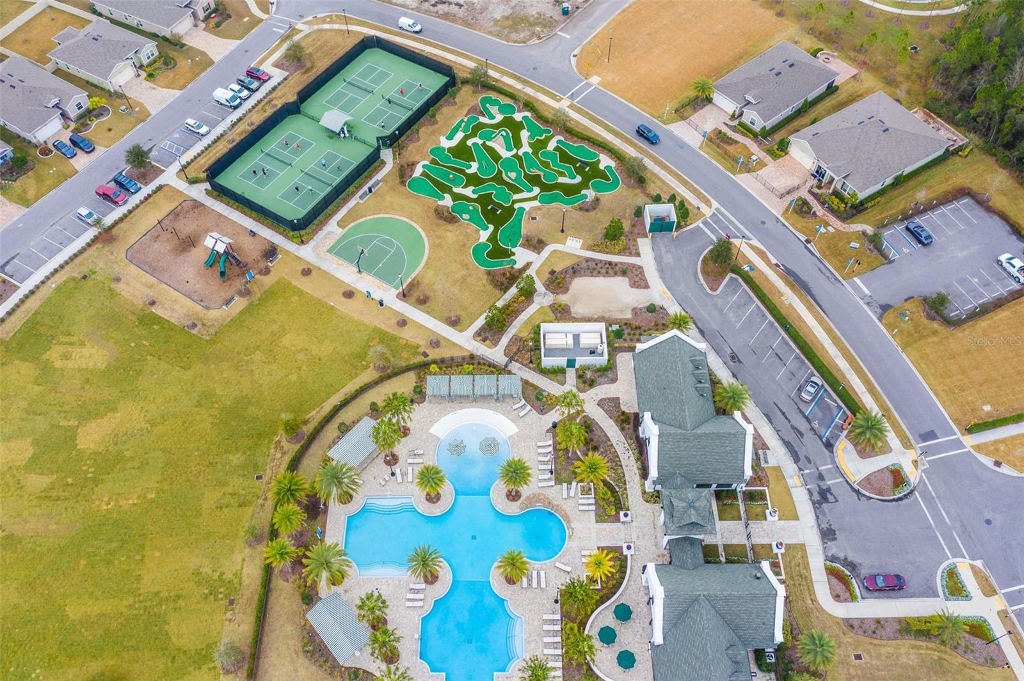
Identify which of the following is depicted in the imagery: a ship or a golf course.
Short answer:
golf course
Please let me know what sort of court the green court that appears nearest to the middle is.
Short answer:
basketball court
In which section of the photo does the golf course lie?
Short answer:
top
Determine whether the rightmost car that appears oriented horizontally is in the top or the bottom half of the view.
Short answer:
bottom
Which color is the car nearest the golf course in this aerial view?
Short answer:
blue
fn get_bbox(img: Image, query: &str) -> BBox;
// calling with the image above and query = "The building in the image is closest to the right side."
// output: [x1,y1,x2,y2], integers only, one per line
[788,89,949,202]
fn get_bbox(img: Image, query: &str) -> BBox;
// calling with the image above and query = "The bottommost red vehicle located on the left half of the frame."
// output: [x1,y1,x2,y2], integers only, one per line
[93,182,126,205]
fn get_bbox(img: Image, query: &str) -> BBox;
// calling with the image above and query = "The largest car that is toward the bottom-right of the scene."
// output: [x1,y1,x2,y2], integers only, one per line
[864,573,911,593]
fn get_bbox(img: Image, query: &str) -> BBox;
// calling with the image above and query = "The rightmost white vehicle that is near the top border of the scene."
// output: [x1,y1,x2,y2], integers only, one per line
[397,14,422,32]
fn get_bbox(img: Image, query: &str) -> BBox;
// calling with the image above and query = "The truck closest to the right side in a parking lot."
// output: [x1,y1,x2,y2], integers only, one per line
[999,251,1024,282]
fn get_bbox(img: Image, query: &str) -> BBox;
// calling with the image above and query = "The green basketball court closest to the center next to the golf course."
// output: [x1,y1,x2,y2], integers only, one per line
[328,214,430,291]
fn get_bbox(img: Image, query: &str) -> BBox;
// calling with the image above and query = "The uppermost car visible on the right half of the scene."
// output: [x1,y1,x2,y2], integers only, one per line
[635,122,662,144]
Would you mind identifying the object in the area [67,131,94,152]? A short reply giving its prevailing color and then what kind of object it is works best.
blue car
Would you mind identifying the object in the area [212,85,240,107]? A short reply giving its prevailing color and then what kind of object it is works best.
white vehicle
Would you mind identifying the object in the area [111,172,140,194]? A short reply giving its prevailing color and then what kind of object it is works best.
blue car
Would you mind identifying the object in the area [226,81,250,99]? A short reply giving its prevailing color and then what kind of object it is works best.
white car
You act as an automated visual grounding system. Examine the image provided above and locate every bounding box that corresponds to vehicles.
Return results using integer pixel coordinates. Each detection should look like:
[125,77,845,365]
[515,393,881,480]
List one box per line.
[67,131,94,152]
[212,85,240,107]
[111,172,140,194]
[245,64,269,82]
[799,374,826,404]
[999,251,1024,282]
[864,573,911,593]
[73,205,98,224]
[226,81,250,99]
[906,220,937,246]
[397,14,422,32]
[635,122,662,144]
[93,182,126,205]
[51,138,75,157]
[235,73,259,91]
